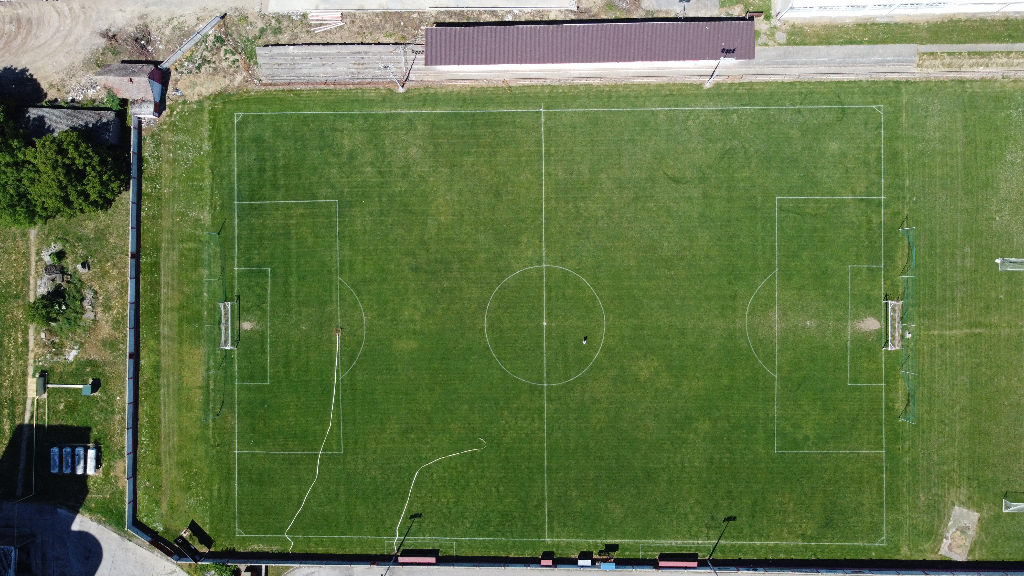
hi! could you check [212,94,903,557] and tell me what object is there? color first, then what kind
green soccer field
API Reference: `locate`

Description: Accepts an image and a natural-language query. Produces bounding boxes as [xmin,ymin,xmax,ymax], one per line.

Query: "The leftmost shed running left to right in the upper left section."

[23,108,124,147]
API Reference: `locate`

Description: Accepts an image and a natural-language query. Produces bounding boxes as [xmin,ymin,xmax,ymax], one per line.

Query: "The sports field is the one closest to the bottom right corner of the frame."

[903,88,1024,555]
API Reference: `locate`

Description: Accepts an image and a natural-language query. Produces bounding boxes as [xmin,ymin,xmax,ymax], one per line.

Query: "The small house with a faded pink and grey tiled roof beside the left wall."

[94,64,163,103]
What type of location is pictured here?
sports ground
